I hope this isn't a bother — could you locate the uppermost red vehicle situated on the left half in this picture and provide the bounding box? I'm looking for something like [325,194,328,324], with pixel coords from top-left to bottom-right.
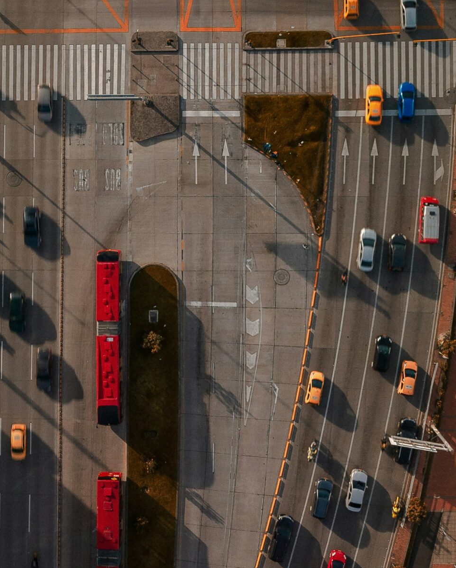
[95,252,124,425]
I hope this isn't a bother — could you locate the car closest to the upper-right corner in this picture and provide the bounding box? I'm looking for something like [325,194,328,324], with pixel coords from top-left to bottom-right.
[398,0,419,31]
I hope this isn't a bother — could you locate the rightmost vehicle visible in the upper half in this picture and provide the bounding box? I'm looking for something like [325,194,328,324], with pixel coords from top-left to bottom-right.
[414,195,443,245]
